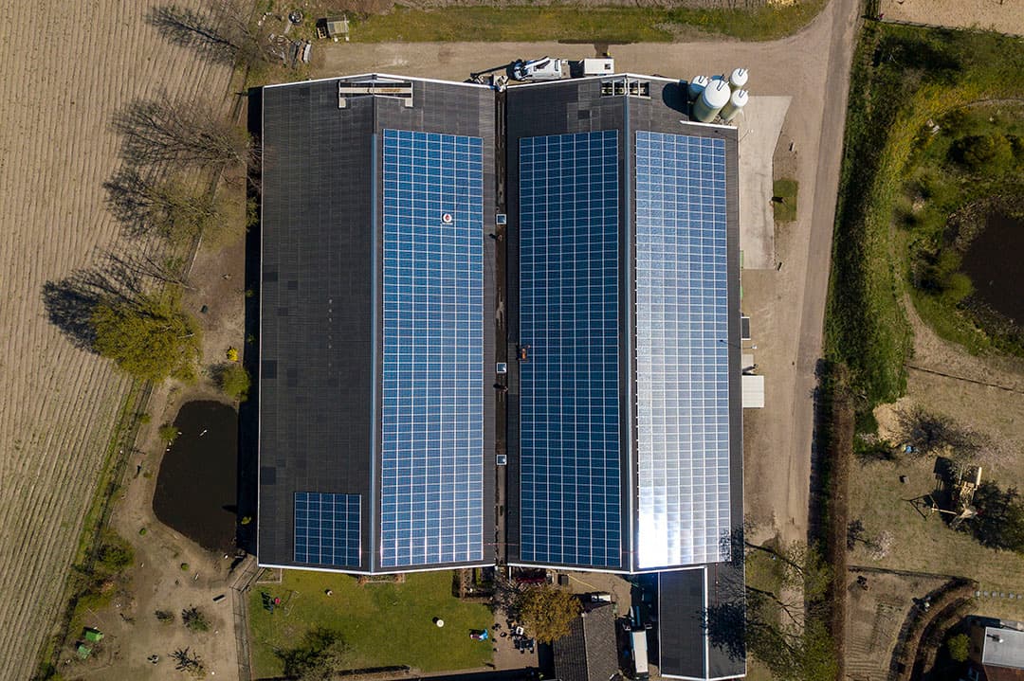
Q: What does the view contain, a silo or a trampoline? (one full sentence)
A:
The image shows a silo.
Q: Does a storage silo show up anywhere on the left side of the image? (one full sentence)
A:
No, there's no storage silo to be seen on the left side of the image.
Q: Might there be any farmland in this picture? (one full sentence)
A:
Yes, some farmland is visible.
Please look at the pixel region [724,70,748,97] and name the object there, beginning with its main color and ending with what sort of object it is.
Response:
white silo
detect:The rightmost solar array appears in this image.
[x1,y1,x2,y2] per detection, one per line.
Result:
[635,131,732,568]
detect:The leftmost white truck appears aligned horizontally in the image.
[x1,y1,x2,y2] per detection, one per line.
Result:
[471,57,567,82]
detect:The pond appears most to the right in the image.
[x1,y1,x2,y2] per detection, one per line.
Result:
[963,210,1024,333]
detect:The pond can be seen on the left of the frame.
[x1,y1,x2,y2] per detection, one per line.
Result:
[153,398,240,553]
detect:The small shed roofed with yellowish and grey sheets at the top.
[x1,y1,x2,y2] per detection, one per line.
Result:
[324,14,347,43]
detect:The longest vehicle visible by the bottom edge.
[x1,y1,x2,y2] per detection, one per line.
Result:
[623,618,653,677]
